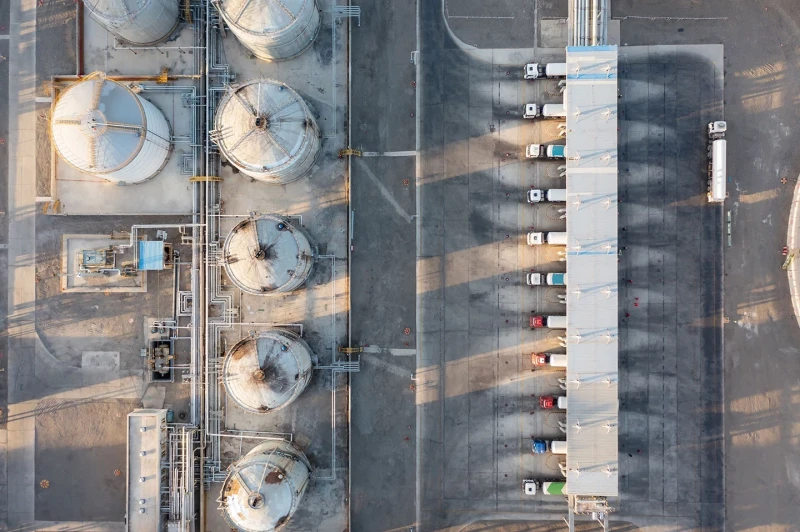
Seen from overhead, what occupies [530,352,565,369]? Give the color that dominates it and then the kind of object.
white vehicle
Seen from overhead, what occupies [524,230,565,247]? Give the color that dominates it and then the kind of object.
white vehicle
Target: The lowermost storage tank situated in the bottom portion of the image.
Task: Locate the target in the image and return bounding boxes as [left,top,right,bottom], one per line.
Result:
[217,437,309,532]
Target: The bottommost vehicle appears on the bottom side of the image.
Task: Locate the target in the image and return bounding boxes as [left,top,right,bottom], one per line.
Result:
[521,477,565,497]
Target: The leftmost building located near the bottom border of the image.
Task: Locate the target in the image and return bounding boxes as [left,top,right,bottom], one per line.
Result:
[128,408,174,532]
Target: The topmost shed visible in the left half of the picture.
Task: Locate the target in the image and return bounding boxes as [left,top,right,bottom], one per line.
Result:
[140,241,177,270]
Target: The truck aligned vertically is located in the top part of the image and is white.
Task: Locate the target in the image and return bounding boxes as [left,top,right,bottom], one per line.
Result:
[703,122,724,201]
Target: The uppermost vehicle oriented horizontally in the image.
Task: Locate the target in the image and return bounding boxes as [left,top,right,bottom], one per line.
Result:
[522,62,565,81]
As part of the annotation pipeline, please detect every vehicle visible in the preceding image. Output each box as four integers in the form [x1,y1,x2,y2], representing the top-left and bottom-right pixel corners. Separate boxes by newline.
[530,437,565,455]
[527,313,565,330]
[523,142,565,159]
[703,122,724,201]
[524,271,565,287]
[522,62,565,81]
[530,352,565,369]
[522,102,565,120]
[521,477,565,497]
[525,187,565,204]
[524,230,565,247]
[538,394,565,411]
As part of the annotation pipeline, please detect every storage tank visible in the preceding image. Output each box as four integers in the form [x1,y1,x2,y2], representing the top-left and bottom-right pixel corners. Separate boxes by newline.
[217,437,309,532]
[218,214,314,295]
[220,0,321,58]
[210,77,320,184]
[219,327,312,414]
[79,0,184,47]
[48,73,174,184]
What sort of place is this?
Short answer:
industrial area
